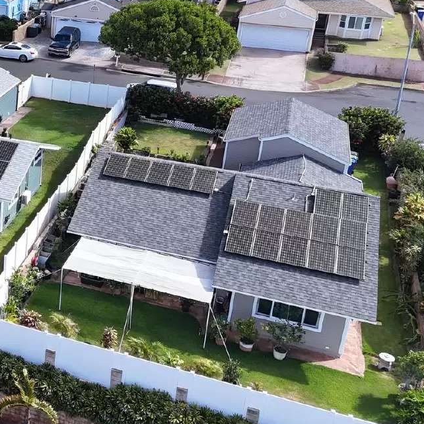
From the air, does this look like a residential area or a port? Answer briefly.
residential area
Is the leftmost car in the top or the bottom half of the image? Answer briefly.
top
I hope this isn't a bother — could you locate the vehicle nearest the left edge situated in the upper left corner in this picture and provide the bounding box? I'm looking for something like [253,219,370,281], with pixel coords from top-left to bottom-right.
[0,42,39,62]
